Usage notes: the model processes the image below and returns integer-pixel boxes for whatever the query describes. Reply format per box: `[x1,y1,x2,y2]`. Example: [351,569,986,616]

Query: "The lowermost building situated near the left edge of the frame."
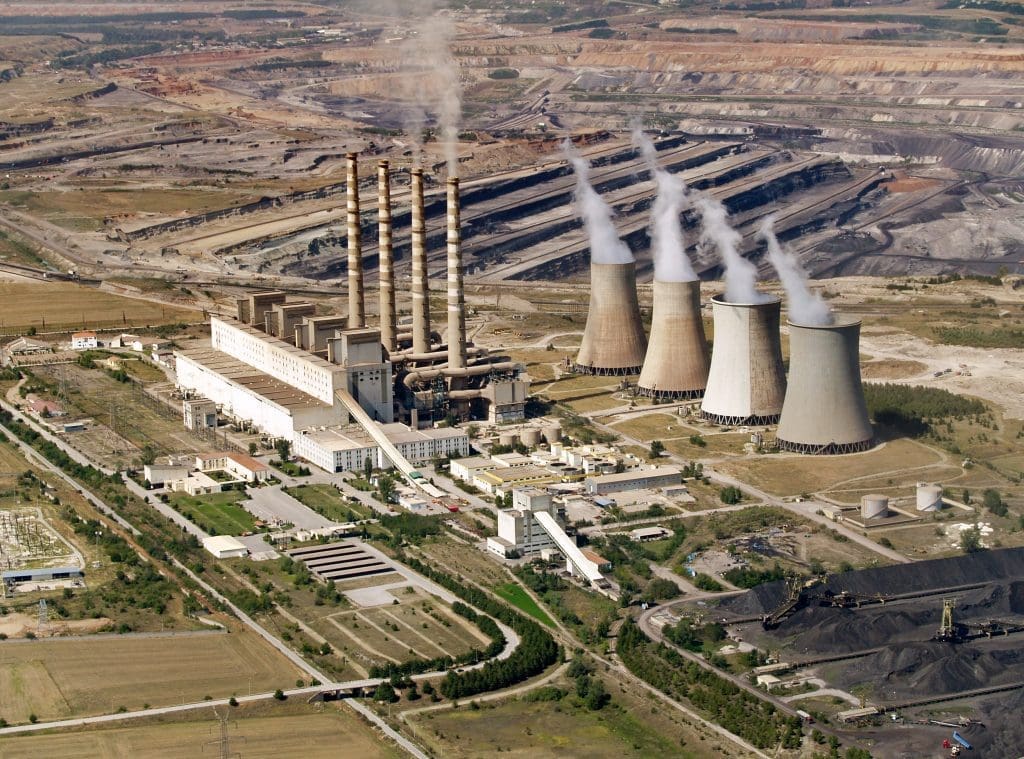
[3,565,96,590]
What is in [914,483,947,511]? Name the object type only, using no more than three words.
storage tank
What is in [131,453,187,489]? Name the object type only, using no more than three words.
building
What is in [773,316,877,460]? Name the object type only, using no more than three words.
cooling tower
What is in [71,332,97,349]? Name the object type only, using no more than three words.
house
